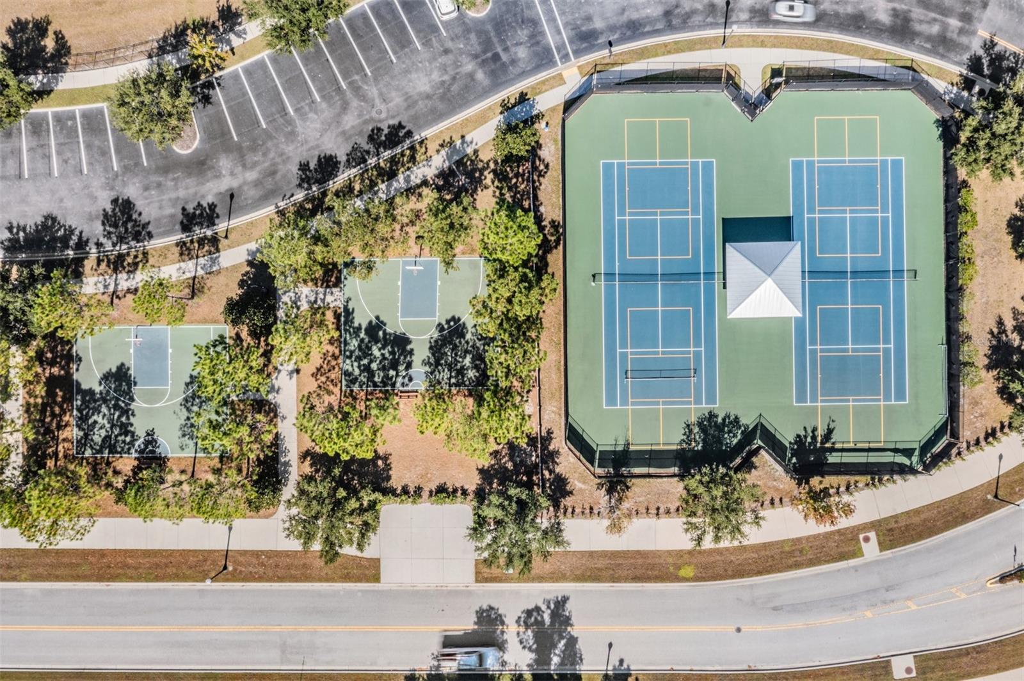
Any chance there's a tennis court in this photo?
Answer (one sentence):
Yes, this view includes a tennis court.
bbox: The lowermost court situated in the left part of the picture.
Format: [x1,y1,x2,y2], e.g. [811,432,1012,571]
[73,324,229,457]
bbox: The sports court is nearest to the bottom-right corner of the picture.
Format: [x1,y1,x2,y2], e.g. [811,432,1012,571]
[817,305,884,446]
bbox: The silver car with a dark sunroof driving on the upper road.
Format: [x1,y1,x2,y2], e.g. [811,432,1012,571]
[770,0,818,23]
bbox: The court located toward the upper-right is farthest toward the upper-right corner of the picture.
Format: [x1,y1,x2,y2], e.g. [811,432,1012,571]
[815,116,881,256]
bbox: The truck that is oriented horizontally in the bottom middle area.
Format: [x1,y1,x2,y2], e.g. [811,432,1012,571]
[434,645,498,674]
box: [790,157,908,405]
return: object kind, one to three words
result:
tennis court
